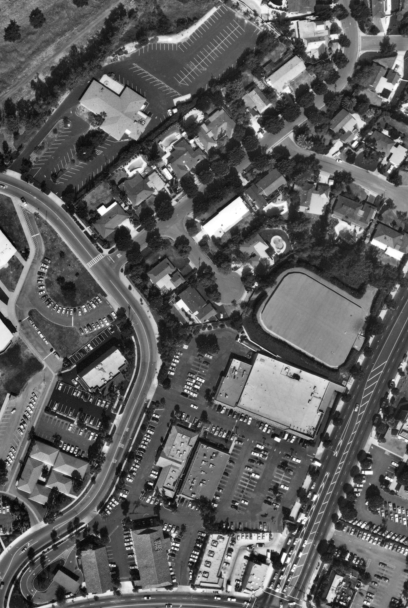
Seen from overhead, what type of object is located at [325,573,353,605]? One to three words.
building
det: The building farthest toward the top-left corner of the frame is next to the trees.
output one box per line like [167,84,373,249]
[78,76,152,141]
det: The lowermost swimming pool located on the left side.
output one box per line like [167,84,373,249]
[127,159,145,173]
